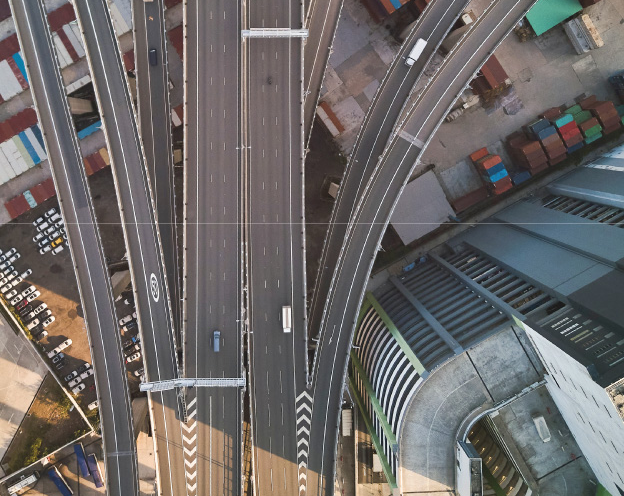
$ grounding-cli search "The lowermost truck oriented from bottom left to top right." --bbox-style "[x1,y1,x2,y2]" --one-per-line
[10,469,43,495]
